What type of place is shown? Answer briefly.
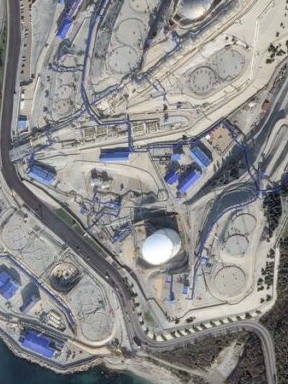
industrial area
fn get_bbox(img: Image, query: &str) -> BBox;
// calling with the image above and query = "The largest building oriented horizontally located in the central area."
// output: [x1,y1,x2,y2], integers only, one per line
[98,148,131,162]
